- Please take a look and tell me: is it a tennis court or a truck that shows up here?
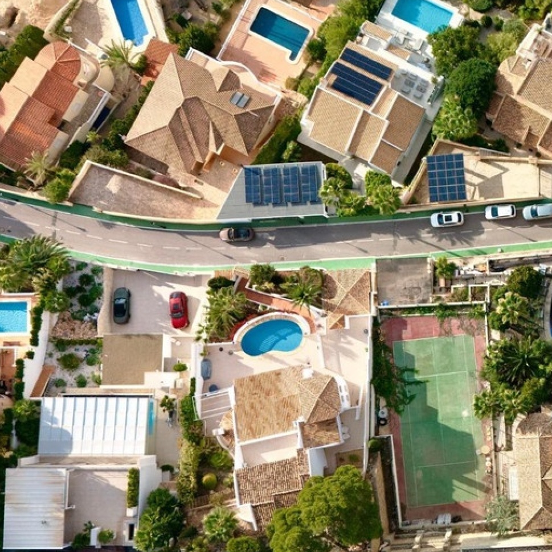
tennis court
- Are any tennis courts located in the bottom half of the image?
Yes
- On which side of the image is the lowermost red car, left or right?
left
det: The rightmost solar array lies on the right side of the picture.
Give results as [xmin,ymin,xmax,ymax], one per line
[426,154,466,202]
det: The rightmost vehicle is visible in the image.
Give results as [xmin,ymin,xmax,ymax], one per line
[522,202,552,220]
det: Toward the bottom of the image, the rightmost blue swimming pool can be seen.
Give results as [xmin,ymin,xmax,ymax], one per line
[236,315,306,361]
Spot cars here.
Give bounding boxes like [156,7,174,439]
[112,287,132,325]
[484,202,517,220]
[430,209,464,227]
[169,291,190,329]
[522,202,552,220]
[219,224,255,242]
